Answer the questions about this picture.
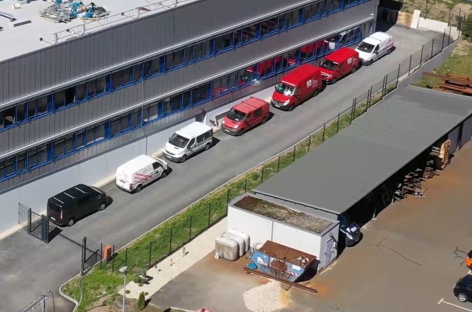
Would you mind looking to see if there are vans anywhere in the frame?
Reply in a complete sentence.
Yes, the photo shows a van.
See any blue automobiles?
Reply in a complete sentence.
No, the photo shows no blue automobile.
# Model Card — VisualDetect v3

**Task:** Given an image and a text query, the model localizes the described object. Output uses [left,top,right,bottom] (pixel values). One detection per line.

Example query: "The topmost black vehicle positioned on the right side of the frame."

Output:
[338,214,365,251]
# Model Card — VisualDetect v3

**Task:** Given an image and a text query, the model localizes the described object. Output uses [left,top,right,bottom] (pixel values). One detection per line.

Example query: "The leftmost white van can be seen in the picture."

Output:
[114,155,172,194]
